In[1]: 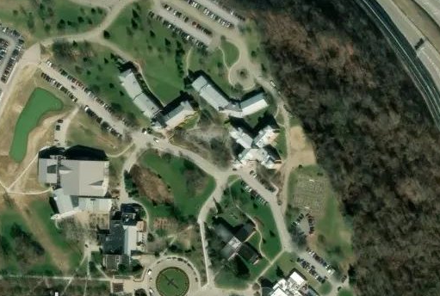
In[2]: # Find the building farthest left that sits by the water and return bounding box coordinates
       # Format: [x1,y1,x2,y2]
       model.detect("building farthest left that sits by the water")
[38,159,116,219]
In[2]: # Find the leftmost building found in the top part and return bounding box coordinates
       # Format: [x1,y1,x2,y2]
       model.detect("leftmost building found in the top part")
[120,70,201,130]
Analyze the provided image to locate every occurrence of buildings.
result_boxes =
[120,70,201,130]
[192,76,273,118]
[229,126,287,172]
[271,272,312,296]
[38,159,116,219]
[103,208,146,271]
[214,222,266,266]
